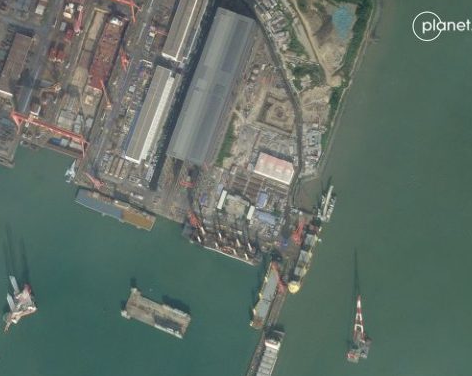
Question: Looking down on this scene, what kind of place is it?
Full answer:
This looks like a port.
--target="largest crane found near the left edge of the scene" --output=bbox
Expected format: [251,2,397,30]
[11,113,91,161]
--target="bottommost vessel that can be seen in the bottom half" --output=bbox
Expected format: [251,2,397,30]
[253,323,287,376]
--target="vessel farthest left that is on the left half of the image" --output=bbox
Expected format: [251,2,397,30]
[2,275,36,332]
